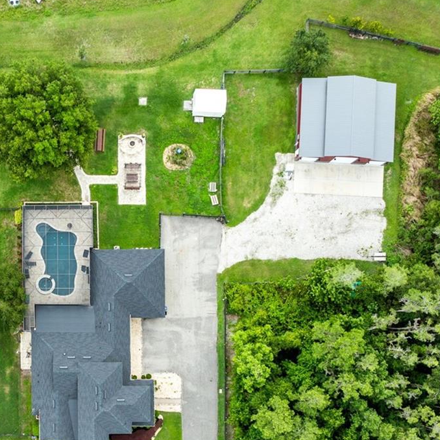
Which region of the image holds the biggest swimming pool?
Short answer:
left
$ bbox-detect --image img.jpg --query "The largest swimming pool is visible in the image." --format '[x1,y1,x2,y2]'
[34,222,78,297]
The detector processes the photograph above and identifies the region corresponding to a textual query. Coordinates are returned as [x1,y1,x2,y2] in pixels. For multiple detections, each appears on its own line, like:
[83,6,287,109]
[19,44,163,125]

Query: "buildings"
[31,249,165,440]
[291,75,396,166]
[191,91,225,120]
